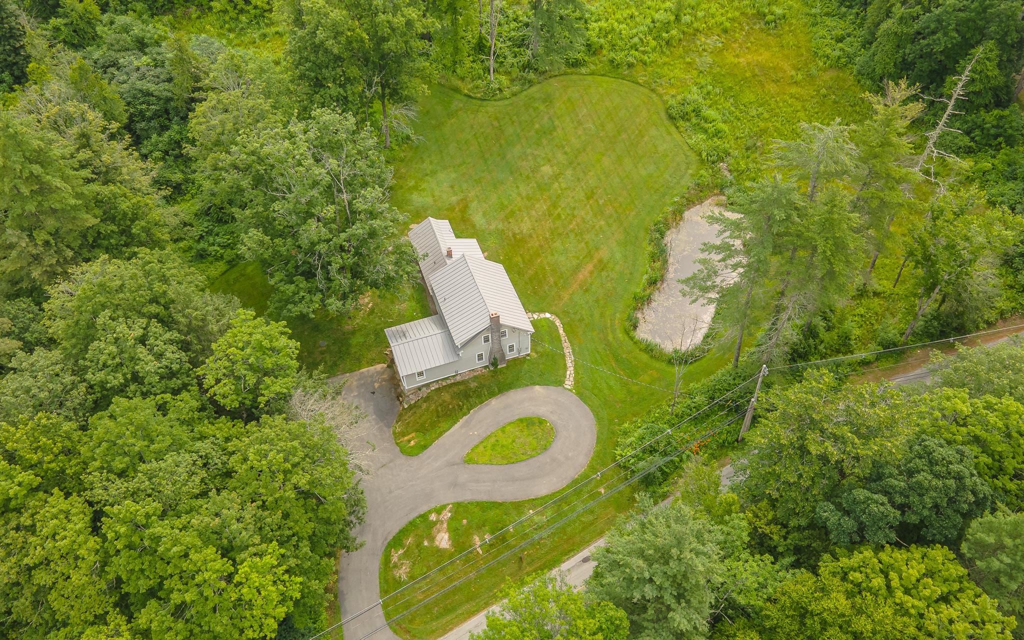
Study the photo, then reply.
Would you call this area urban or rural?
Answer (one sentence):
It looks rural.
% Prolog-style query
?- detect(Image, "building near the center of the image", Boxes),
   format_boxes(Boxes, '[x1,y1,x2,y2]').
[382,216,534,394]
